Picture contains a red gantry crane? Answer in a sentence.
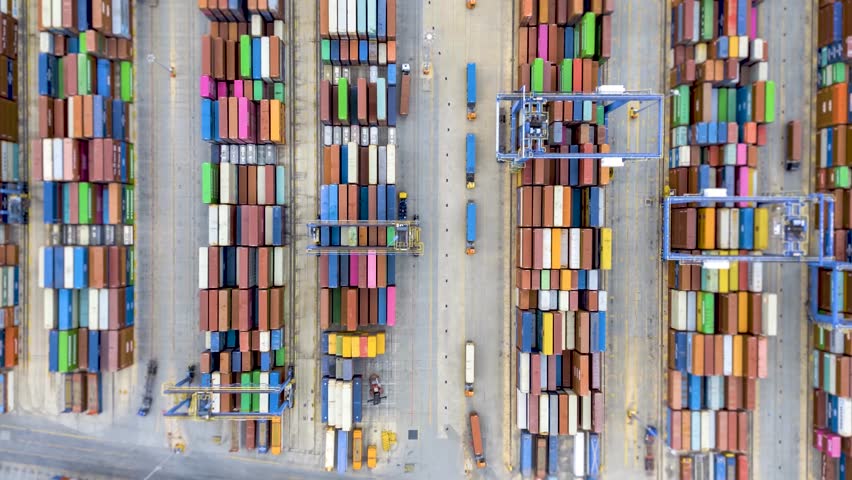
No, there isn't any red gantry crane down there.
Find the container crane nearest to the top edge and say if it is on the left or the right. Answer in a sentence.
The container crane nearest to the top edge is on the right side of the image.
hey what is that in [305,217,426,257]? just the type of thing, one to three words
container crane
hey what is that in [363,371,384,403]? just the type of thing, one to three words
vehicle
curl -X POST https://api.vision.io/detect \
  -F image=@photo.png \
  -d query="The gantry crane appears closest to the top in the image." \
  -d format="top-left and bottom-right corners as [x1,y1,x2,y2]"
[495,82,662,175]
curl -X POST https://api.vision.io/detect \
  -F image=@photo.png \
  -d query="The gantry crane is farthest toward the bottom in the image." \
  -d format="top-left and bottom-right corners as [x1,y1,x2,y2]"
[159,365,295,418]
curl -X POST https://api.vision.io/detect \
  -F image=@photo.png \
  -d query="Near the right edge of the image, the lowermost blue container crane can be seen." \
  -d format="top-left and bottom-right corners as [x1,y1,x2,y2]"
[808,250,852,326]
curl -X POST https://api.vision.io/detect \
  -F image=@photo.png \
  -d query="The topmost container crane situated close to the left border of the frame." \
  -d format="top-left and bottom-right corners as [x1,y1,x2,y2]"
[0,181,27,221]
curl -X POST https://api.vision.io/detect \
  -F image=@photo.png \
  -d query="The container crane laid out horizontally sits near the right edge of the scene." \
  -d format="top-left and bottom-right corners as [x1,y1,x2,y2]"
[660,186,832,270]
